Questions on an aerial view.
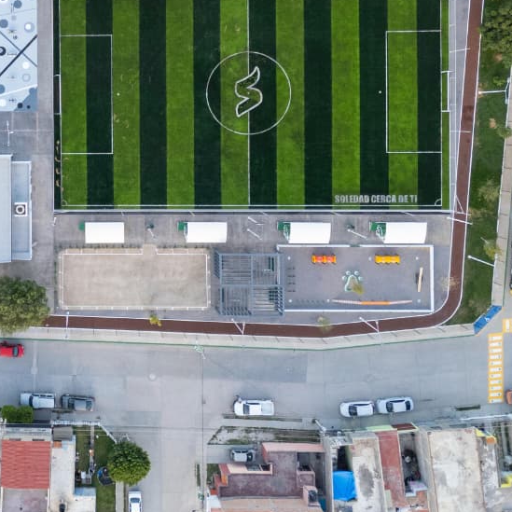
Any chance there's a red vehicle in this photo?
Yes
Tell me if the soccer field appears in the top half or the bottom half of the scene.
top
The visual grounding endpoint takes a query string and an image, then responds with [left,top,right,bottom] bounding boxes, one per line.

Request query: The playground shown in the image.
[276,245,435,314]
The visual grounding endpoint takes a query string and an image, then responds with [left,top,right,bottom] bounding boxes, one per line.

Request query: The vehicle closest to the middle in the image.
[232,399,274,416]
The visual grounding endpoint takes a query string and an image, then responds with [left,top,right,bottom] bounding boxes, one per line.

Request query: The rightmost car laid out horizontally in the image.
[374,397,413,414]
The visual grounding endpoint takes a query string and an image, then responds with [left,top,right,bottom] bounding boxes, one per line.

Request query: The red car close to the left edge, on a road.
[0,342,24,358]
